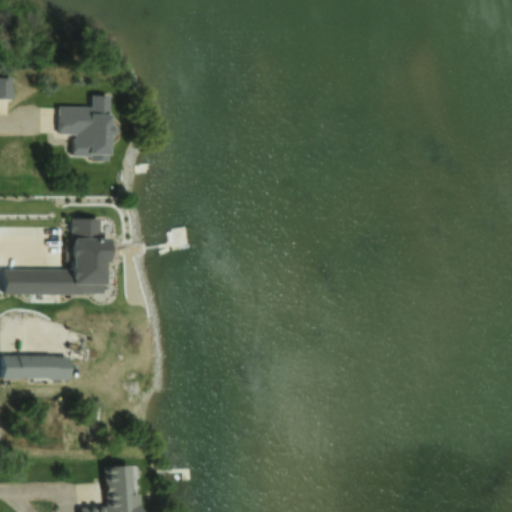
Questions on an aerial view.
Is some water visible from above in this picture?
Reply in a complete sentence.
Yes, water shows up in the scene.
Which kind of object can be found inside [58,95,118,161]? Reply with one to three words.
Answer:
house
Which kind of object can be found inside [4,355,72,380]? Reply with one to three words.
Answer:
house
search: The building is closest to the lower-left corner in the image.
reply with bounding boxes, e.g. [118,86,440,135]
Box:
[78,466,143,512]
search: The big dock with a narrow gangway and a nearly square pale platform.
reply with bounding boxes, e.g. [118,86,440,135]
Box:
[147,227,187,250]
